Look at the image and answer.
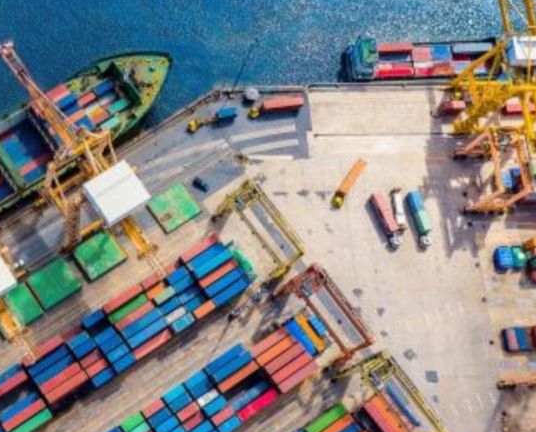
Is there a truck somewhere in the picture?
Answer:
Yes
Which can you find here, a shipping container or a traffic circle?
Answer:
shipping container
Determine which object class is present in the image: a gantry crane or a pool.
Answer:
gantry crane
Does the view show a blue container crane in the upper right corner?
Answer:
No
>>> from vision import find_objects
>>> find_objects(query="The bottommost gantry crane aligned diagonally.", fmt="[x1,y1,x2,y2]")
[326,352,456,432]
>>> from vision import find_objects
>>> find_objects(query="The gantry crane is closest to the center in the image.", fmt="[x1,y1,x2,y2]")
[204,179,312,288]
